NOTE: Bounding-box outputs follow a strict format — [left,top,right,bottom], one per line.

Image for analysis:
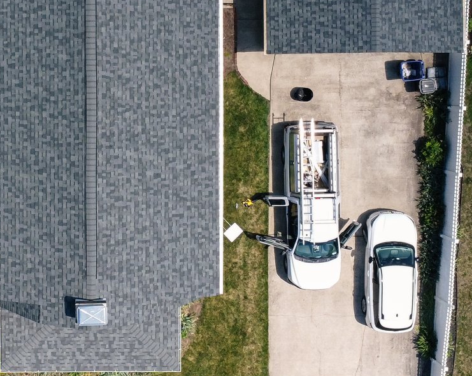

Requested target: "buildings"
[262,0,468,53]
[0,0,223,373]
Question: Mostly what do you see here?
buildings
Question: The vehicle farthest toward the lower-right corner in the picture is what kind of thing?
automobile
